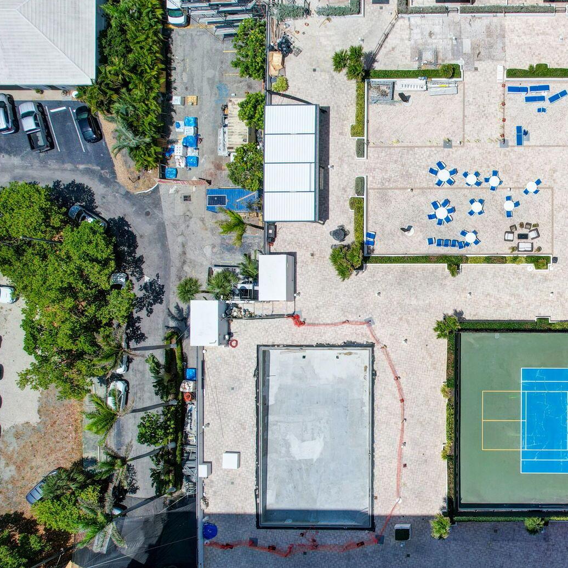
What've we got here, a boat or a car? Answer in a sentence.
There is a car in the scene.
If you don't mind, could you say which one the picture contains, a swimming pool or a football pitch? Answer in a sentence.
It is a swimming pool that can be seen here.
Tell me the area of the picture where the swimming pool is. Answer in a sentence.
You can find the swimming pool in the bottom area of the picture.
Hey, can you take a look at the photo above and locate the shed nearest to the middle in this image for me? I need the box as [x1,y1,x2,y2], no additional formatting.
[259,254,294,300]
